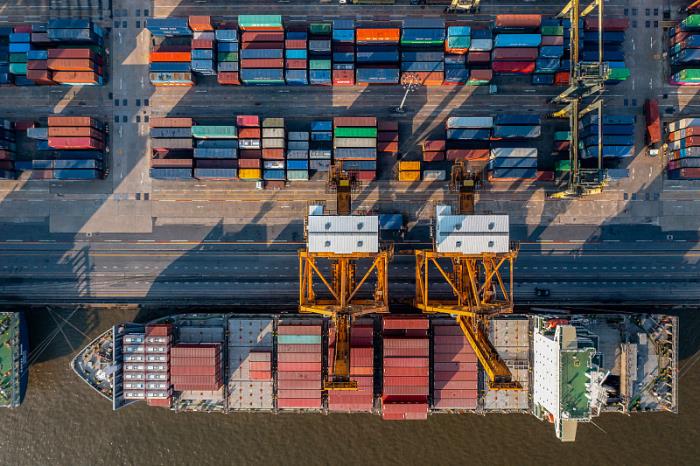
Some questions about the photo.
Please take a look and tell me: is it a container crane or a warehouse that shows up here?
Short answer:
container crane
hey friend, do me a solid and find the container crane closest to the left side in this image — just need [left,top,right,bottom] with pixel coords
[297,160,395,391]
